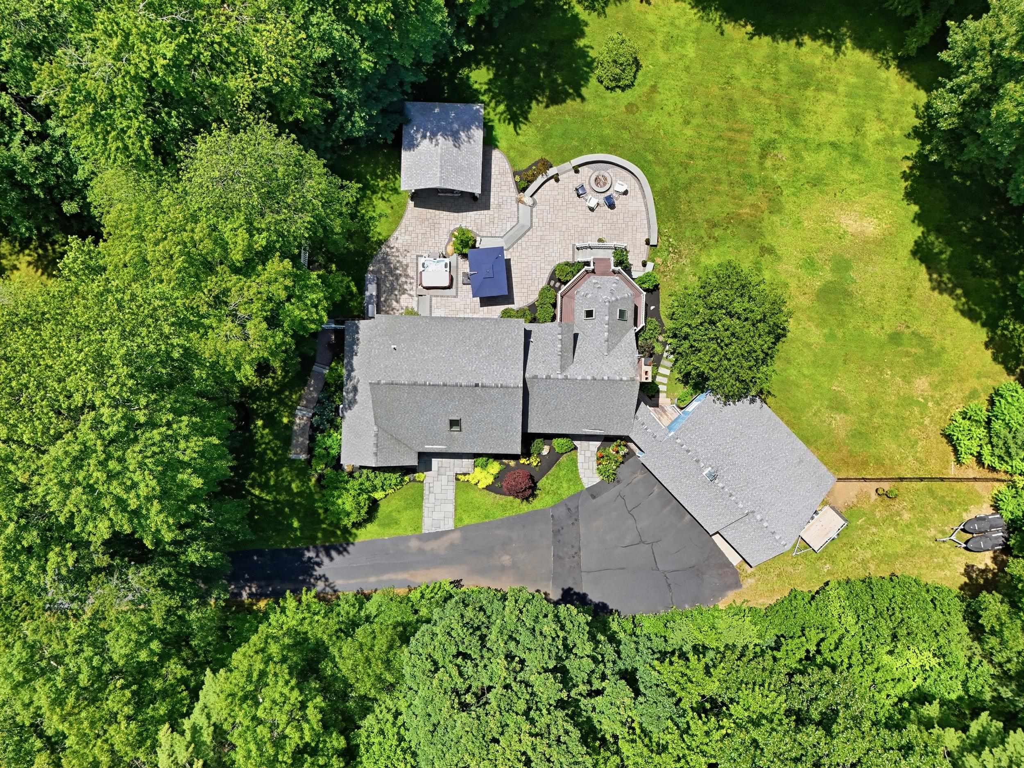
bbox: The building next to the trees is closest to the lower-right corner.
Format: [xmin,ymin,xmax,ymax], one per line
[628,370,836,568]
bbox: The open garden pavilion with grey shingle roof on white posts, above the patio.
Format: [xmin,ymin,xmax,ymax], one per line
[401,102,485,199]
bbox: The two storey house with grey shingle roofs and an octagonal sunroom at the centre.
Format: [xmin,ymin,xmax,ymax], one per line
[339,276,652,466]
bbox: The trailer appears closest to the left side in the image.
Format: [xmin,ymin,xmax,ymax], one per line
[792,504,855,556]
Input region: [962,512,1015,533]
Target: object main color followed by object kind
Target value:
gray boat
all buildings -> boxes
[339,276,652,466]
[628,370,836,568]
[401,102,485,199]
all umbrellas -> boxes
[461,247,508,298]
